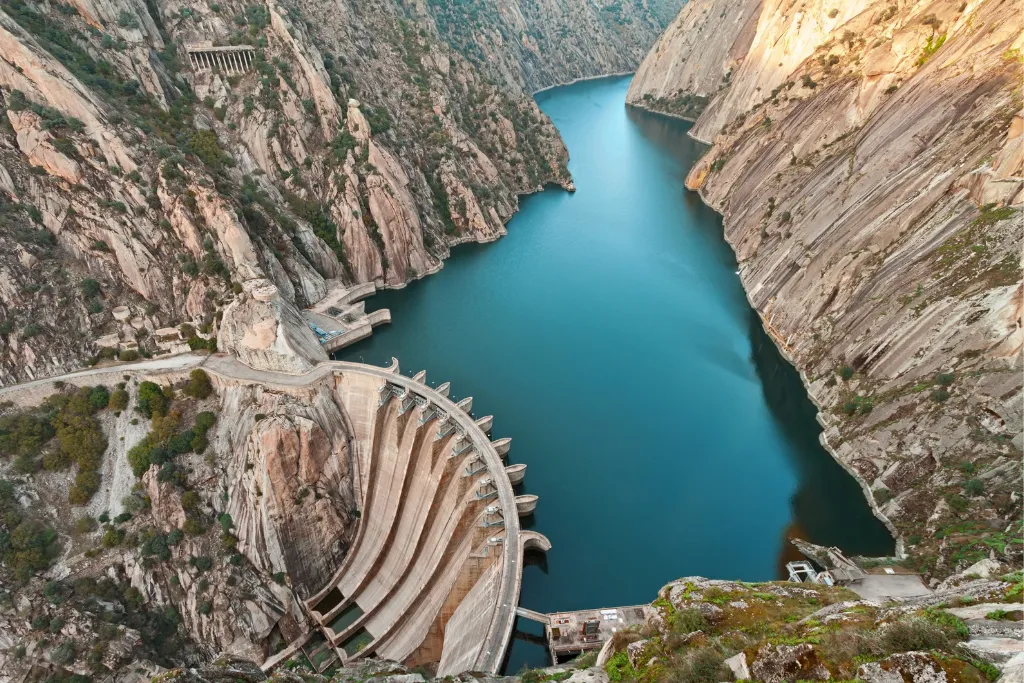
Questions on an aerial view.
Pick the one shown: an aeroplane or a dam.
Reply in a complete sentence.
There is a dam in the scene.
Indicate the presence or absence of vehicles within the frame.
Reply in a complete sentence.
No, no vehicle is visible in the scene.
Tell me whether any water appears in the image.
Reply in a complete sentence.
Yes, water can be seen from above here.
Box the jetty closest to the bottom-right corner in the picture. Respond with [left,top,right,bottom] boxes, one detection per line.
[788,533,838,576]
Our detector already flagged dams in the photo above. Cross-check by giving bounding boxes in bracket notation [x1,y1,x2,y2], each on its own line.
[268,356,551,673]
